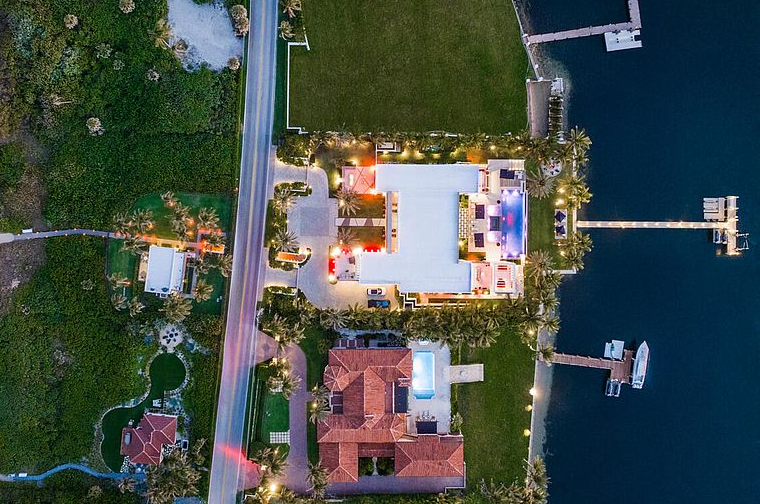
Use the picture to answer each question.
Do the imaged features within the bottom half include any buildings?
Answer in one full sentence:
Yes, within the bottom half there is a building.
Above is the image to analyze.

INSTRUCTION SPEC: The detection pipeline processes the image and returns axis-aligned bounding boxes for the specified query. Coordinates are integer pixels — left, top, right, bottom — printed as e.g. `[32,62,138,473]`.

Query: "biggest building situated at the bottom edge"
[317,338,464,482]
